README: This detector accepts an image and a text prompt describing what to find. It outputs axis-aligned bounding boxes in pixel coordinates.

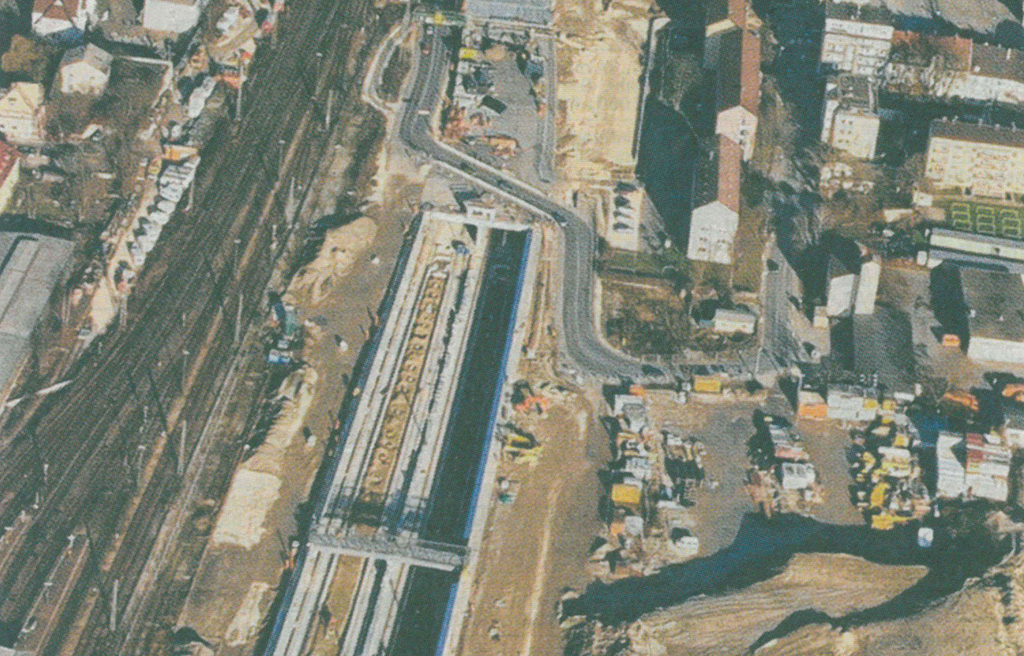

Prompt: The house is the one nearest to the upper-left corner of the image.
[22,0,88,34]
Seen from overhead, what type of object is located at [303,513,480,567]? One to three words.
bridge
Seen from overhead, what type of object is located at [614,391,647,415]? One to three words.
shed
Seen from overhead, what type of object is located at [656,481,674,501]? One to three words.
vehicle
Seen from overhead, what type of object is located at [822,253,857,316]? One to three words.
building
